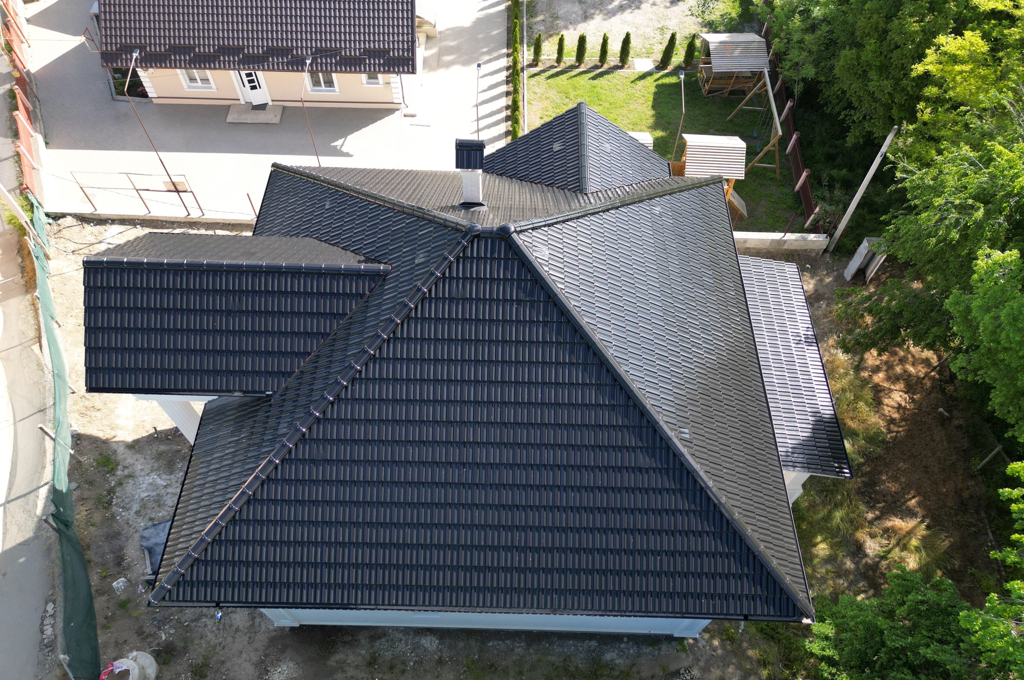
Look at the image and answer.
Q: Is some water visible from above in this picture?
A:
No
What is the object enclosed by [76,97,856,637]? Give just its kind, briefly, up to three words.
house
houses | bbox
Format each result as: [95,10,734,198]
[95,0,419,124]
[76,97,856,637]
